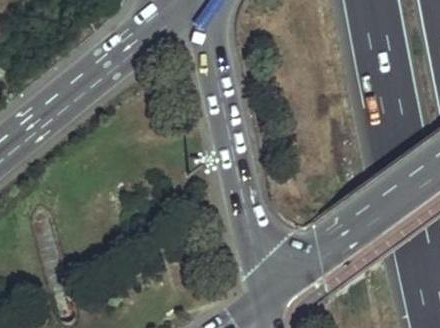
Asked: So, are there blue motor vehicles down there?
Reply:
Yes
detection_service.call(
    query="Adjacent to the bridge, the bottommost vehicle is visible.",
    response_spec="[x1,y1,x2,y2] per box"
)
[288,238,310,252]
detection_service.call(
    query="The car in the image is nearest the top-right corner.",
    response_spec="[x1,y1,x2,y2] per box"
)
[378,52,390,74]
